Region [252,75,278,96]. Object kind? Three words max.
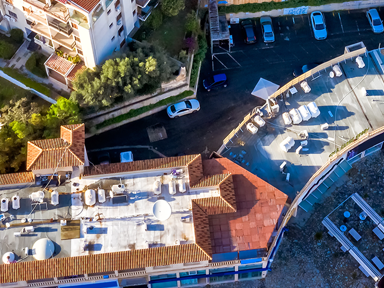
umbrella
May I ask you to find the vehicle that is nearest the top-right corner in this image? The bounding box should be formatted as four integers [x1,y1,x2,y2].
[366,4,384,34]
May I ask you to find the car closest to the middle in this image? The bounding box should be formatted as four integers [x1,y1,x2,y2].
[166,94,203,119]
